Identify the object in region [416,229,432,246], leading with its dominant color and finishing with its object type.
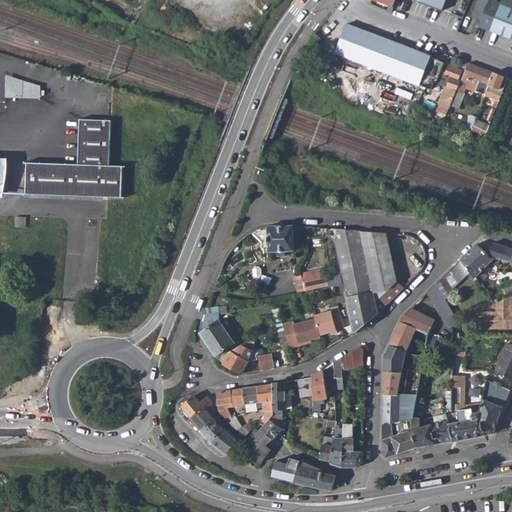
white vehicle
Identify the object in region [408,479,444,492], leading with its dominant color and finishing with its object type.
white vehicle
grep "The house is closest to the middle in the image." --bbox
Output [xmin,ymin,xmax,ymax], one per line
[266,225,293,253]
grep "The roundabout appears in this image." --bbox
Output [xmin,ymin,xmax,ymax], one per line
[47,338,163,453]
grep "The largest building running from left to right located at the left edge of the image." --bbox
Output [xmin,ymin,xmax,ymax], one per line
[23,163,122,197]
